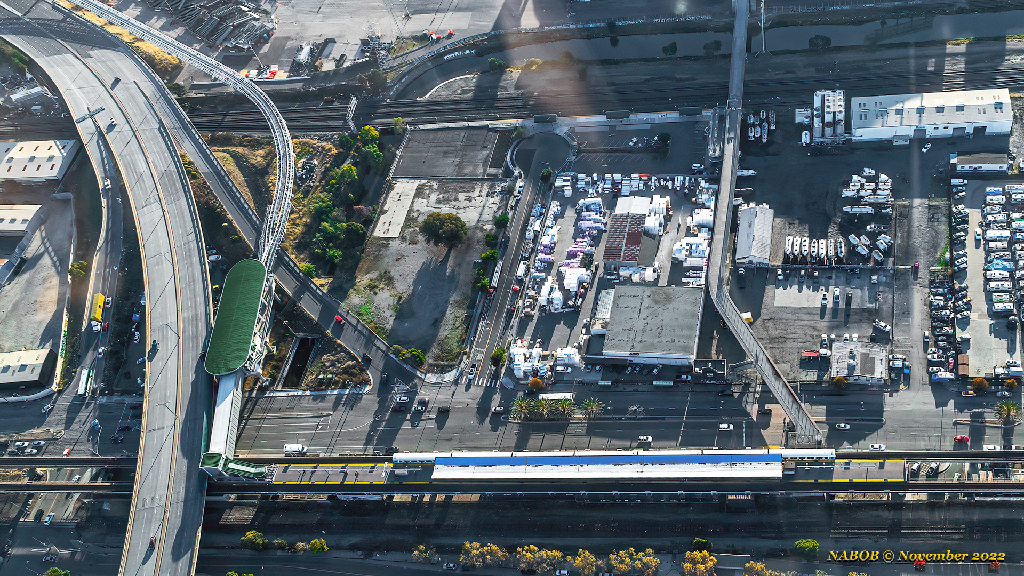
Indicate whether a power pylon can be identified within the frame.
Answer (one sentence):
Yes, the picture does show a power pylon.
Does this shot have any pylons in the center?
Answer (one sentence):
No, no pylon is visible in the center.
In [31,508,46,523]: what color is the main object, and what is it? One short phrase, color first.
black vehicle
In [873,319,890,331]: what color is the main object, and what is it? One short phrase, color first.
white vehicle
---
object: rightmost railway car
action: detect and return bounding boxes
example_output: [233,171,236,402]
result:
[769,449,836,461]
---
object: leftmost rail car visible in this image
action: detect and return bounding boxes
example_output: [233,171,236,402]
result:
[390,451,449,463]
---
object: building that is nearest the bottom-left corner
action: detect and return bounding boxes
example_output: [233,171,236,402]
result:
[0,349,57,389]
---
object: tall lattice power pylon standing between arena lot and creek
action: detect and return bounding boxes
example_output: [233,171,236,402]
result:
[352,9,392,73]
